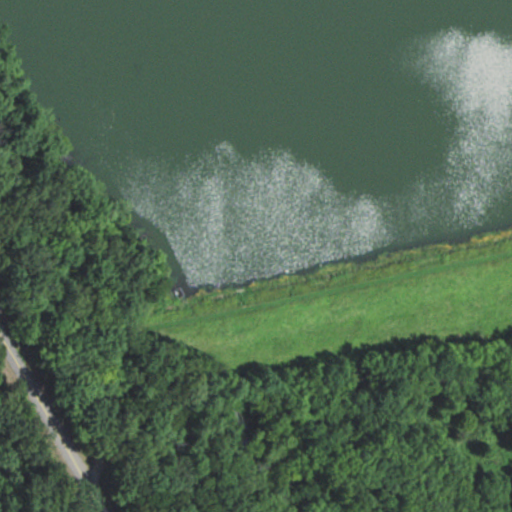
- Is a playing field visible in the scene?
No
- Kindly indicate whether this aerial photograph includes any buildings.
No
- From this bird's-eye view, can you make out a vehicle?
No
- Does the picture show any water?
Yes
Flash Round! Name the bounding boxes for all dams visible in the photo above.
[128,223,512,382]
